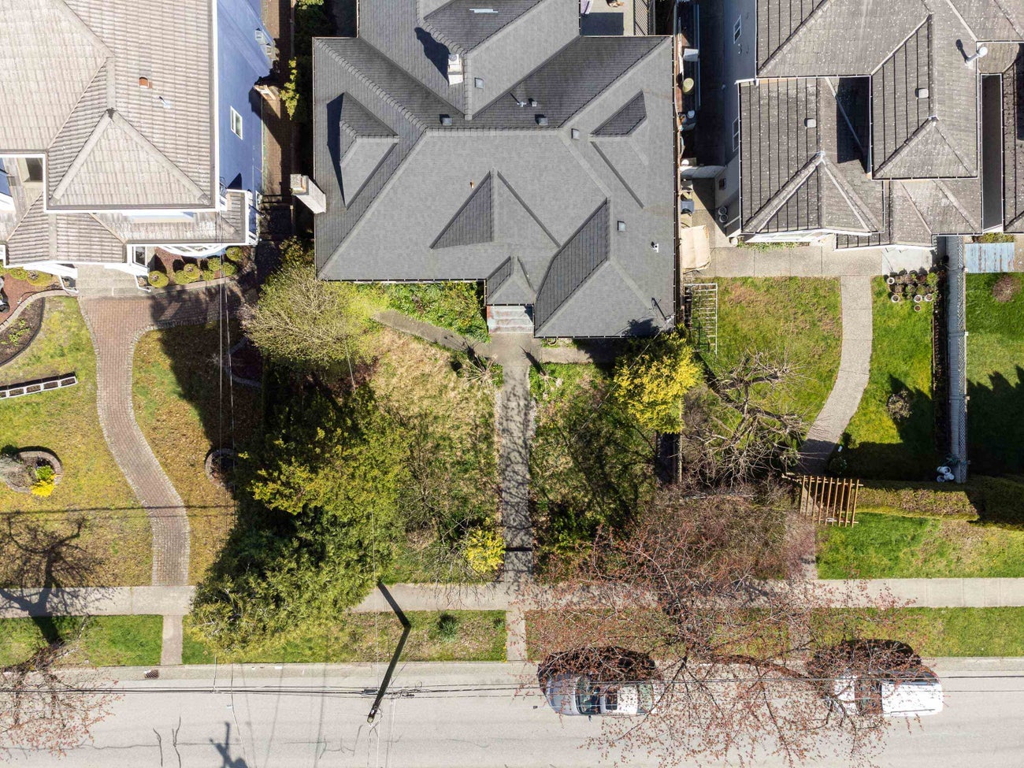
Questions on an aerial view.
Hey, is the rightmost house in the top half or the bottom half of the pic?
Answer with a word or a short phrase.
top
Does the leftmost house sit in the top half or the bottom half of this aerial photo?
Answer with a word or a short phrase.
top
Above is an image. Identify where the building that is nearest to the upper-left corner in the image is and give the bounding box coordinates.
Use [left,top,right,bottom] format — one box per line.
[0,0,269,279]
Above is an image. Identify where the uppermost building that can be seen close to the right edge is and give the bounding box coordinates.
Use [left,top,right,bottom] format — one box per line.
[720,0,1024,251]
